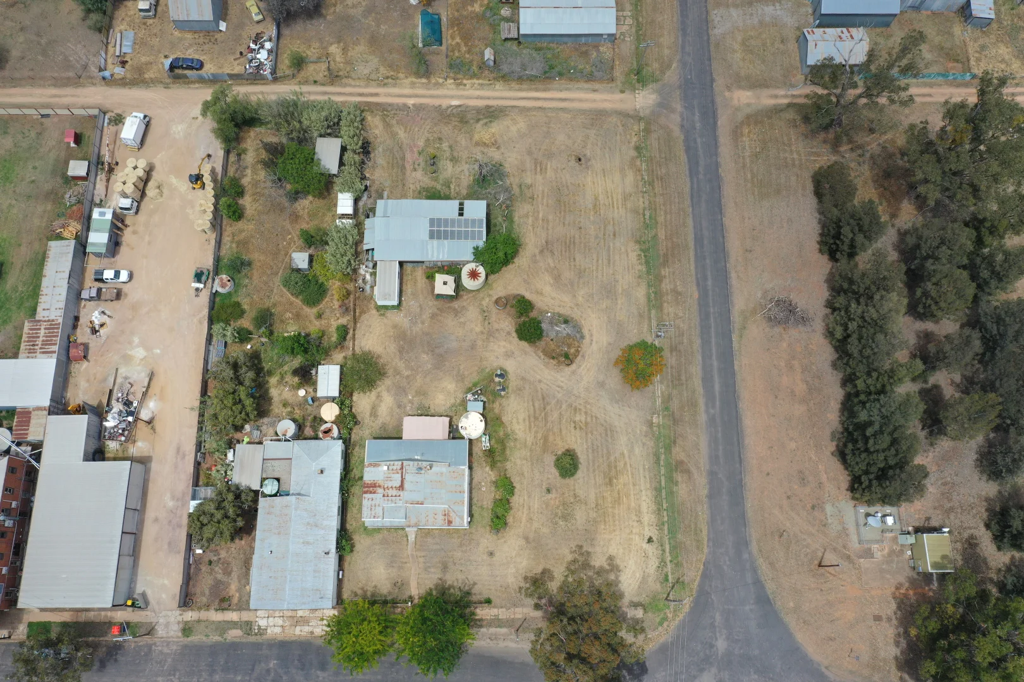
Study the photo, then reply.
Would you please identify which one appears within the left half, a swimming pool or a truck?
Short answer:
truck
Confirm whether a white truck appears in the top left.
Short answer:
Yes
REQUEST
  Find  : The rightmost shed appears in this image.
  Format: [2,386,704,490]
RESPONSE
[958,0,995,31]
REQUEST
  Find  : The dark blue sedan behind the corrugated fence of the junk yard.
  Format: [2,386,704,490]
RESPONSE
[171,55,205,72]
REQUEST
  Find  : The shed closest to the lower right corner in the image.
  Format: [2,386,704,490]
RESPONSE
[913,534,955,573]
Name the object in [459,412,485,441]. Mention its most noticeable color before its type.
white water tank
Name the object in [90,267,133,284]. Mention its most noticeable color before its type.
white vehicle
